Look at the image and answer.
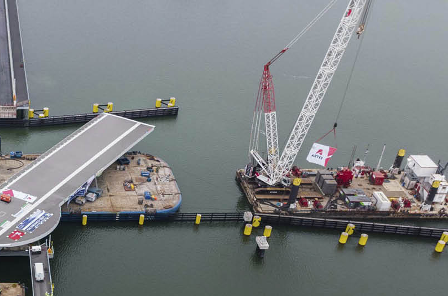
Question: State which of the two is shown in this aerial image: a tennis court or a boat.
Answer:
boat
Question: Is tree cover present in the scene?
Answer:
No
